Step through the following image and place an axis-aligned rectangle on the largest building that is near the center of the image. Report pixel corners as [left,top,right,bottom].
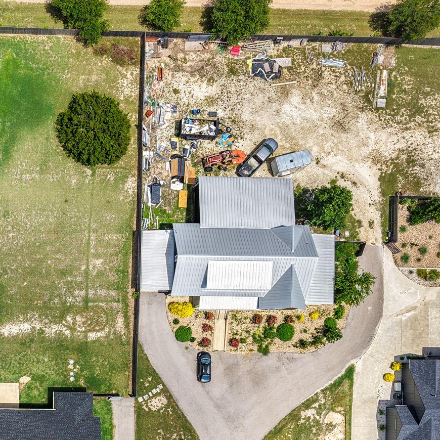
[141,177,337,311]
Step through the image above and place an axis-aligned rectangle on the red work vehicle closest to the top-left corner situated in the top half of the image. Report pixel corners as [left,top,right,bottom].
[197,152,226,169]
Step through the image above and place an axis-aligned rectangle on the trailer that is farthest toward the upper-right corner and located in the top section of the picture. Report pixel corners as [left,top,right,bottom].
[271,150,314,176]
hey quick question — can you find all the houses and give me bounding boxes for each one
[141,177,337,311]
[0,391,102,440]
[382,355,440,440]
